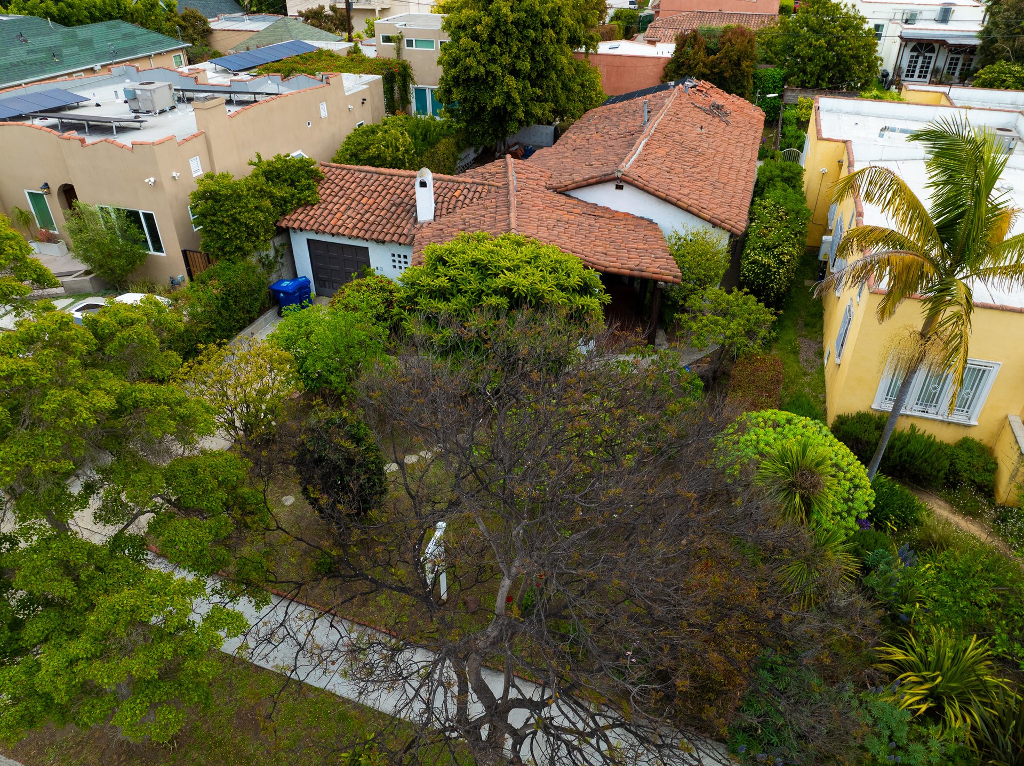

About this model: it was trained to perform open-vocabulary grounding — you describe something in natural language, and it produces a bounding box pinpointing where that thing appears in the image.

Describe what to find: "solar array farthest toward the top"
[209,40,315,75]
